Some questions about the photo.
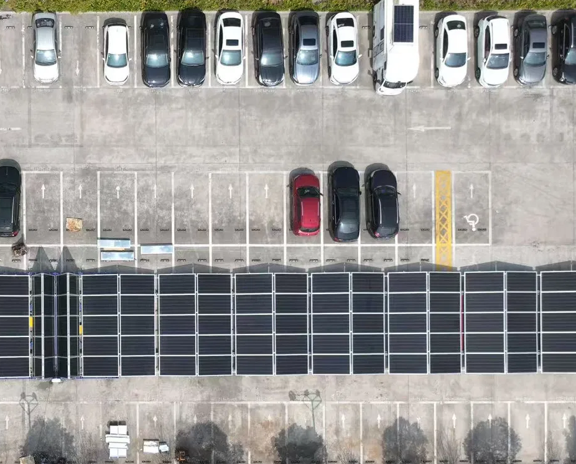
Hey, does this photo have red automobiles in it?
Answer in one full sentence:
Yes, the picture does show a red automobile.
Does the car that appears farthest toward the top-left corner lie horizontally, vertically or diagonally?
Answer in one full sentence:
In this picture, the car that appears farthest toward the top-left corner lies vertically.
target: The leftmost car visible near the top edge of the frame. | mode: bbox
[28,13,63,84]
